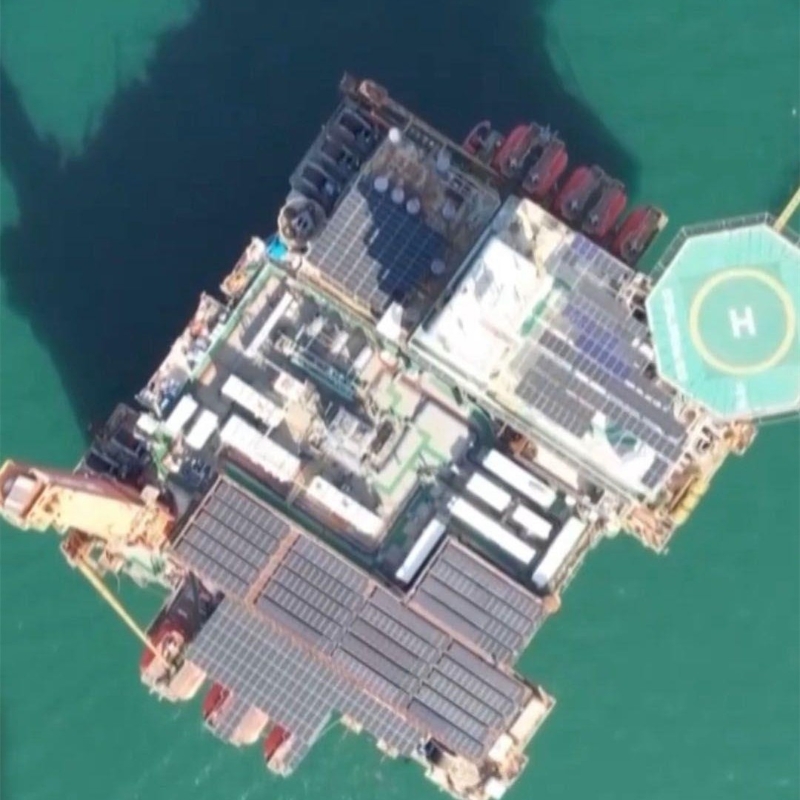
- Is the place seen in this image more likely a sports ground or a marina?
marina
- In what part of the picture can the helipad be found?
right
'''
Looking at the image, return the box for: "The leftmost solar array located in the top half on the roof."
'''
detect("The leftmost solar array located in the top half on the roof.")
[303,180,455,317]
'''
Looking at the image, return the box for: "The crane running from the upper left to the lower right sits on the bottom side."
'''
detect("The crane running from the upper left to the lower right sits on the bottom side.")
[62,531,156,655]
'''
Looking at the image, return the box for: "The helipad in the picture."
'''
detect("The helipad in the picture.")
[638,216,800,427]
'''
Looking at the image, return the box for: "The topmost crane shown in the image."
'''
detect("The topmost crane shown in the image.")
[0,461,181,550]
